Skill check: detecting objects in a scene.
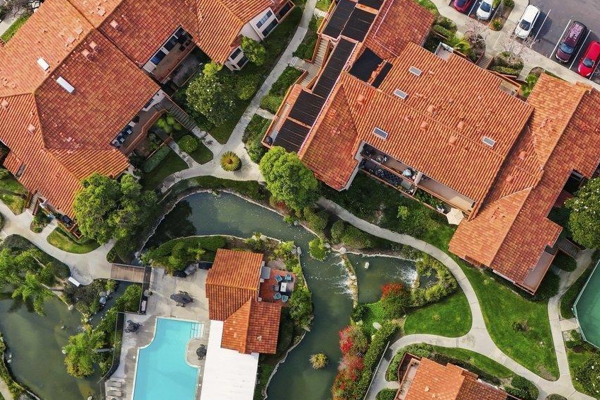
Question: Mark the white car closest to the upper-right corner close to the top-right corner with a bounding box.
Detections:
[513,2,541,42]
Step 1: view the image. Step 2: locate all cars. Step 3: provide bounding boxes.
[576,40,600,80]
[448,0,473,23]
[513,2,541,42]
[473,0,495,24]
[554,20,588,65]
